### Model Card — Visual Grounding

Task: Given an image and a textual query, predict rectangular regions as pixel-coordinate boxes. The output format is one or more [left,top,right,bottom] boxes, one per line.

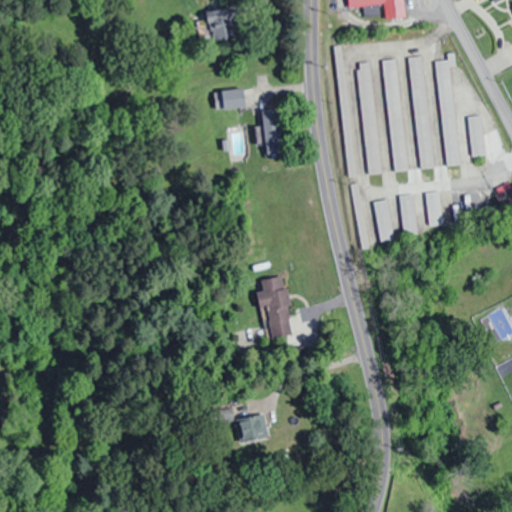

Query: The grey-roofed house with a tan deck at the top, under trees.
[197,8,236,40]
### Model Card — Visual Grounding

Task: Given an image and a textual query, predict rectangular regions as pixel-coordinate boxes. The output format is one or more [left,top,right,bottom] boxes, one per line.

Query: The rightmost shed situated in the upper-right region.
[468,114,485,156]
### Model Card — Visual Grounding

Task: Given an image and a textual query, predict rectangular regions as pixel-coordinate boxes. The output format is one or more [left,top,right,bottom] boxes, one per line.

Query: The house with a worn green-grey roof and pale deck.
[238,412,272,446]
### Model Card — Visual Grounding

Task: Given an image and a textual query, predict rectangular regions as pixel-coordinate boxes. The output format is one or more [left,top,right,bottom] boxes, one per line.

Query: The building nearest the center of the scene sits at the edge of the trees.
[258,277,294,337]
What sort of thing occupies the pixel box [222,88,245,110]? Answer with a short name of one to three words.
building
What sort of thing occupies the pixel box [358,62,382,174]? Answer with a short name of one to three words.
shed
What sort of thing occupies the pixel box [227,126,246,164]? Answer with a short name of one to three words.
swimming pool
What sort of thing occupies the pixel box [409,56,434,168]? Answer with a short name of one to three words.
shed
